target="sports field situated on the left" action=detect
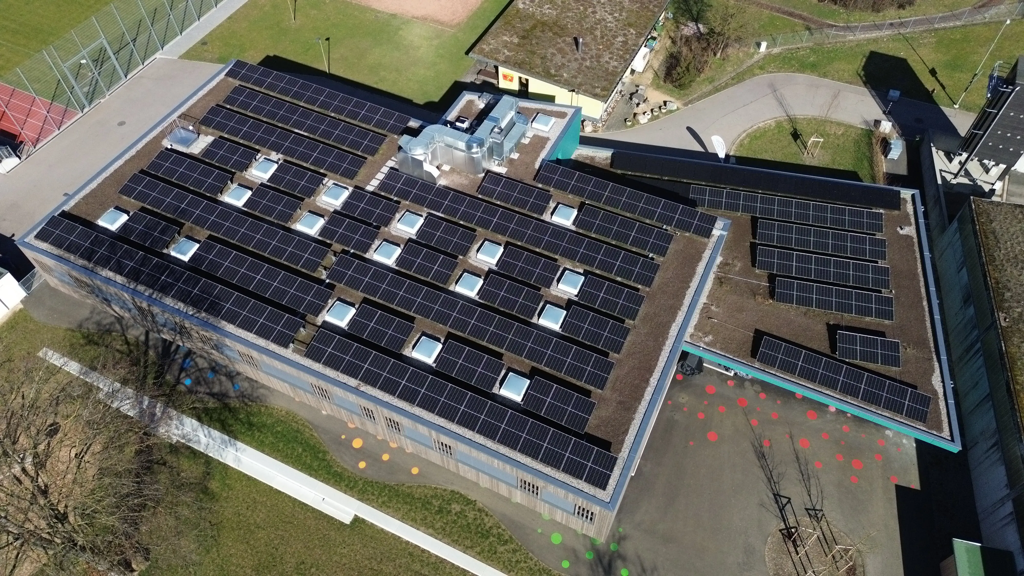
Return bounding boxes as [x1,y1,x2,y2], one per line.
[0,0,223,112]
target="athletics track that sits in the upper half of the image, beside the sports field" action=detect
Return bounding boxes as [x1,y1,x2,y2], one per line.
[0,83,83,178]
